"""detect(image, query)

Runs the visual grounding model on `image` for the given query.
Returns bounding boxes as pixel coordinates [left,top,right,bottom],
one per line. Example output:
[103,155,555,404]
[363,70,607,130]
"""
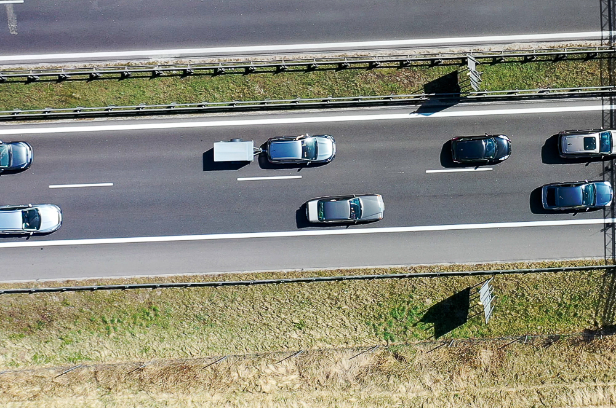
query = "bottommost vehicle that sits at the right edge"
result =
[541,177,614,212]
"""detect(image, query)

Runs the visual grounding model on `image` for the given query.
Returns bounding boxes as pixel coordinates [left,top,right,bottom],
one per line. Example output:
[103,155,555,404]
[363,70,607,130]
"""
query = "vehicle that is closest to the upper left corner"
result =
[0,137,36,173]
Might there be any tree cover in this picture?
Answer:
No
